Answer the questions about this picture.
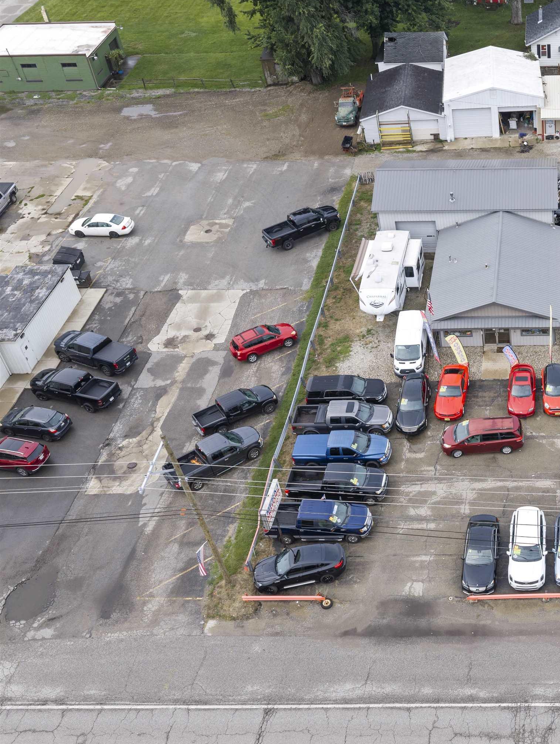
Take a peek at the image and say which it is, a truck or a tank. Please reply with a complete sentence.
It is a truck that can be seen here.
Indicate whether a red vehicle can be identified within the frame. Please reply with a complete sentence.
Yes, there's a red vehicle down there.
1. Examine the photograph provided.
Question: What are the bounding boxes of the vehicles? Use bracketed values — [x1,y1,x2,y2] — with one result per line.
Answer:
[333,73,365,126]
[189,387,281,441]
[390,305,429,384]
[0,437,53,481]
[435,367,469,424]
[29,369,126,416]
[459,520,499,601]
[395,378,431,438]
[288,430,393,470]
[0,406,78,447]
[259,210,342,253]
[0,187,28,215]
[227,326,298,367]
[507,511,547,593]
[540,364,560,417]
[157,427,267,498]
[506,367,537,419]
[441,416,525,459]
[292,400,393,437]
[51,334,143,378]
[302,377,390,407]
[261,500,375,547]
[253,547,348,595]
[69,215,136,241]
